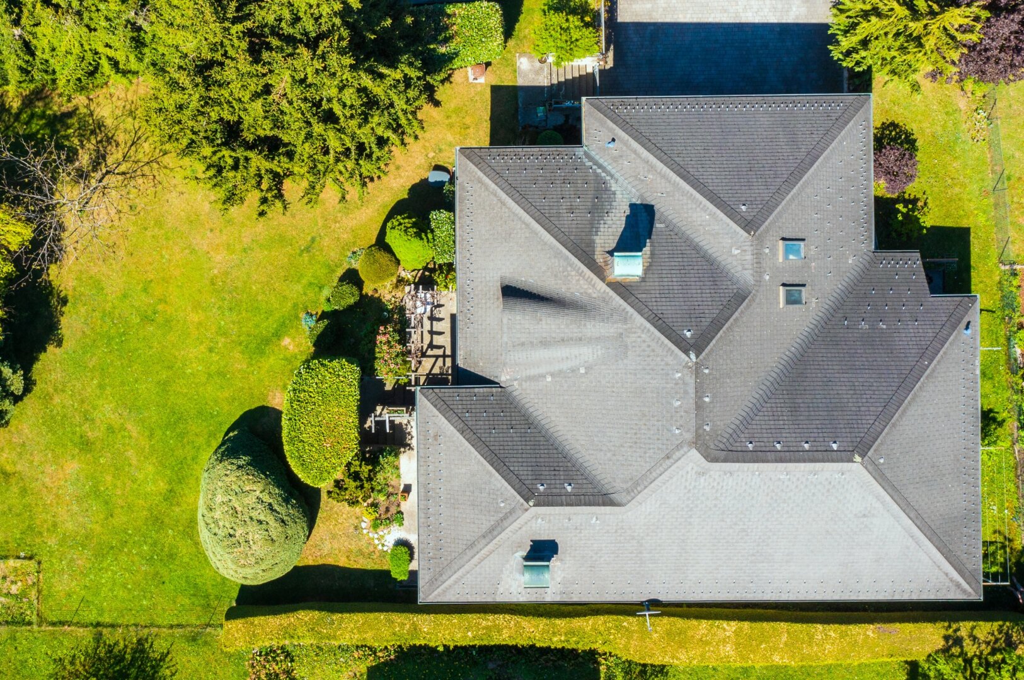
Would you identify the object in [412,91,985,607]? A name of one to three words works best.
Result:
house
